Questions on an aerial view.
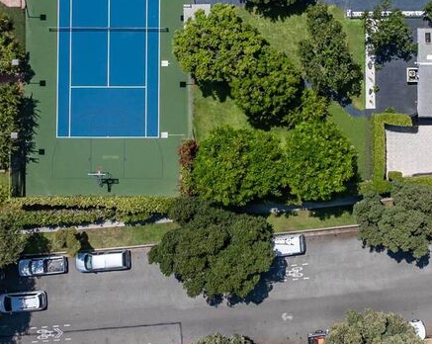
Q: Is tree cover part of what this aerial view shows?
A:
Yes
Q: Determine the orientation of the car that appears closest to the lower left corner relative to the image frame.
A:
from left to right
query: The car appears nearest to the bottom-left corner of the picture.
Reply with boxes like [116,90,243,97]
[1,289,50,314]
